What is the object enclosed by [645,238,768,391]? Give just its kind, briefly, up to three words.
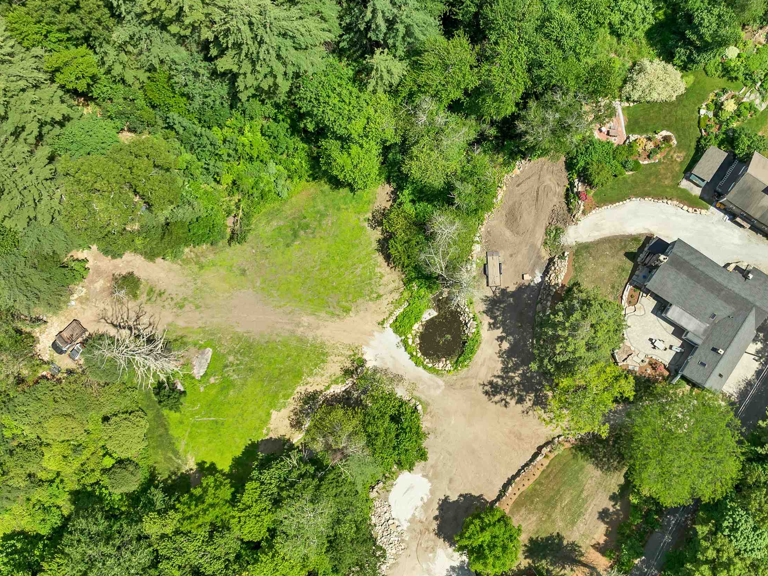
house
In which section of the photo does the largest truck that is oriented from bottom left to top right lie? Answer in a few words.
left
